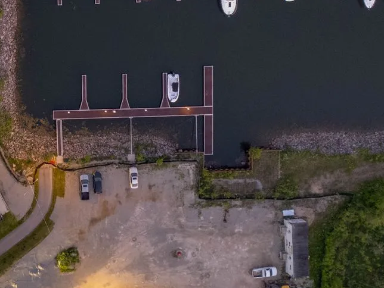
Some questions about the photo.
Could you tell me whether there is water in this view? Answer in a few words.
Yes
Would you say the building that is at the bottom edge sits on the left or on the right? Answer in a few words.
right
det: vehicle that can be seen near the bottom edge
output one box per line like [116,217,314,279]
[250,265,279,278]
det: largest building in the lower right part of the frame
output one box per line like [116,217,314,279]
[277,218,309,278]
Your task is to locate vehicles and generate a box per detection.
[92,170,104,194]
[250,265,279,278]
[128,165,140,189]
[79,173,91,201]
